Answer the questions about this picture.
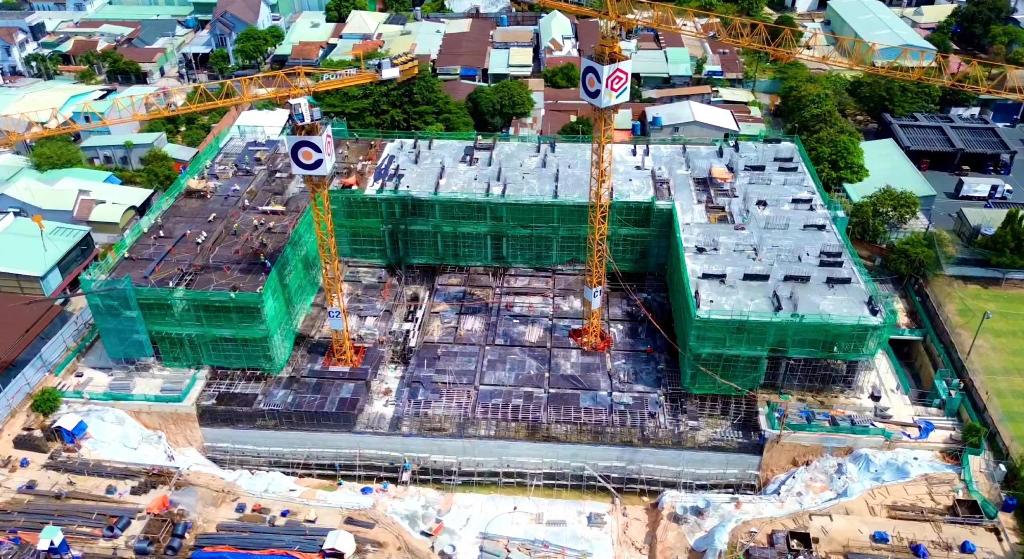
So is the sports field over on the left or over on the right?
right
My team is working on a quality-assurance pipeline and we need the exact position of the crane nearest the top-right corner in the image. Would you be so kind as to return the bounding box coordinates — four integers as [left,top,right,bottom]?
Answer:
[478,0,1024,360]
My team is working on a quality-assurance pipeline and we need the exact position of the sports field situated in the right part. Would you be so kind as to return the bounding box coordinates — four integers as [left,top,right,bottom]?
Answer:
[948,280,1024,441]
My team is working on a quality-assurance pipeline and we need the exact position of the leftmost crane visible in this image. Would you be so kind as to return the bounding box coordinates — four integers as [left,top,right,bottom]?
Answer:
[0,55,417,370]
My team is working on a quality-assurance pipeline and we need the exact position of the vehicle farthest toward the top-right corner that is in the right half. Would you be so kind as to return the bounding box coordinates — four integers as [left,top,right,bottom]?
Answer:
[996,156,1014,171]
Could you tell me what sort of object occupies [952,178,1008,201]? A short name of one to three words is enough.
truck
